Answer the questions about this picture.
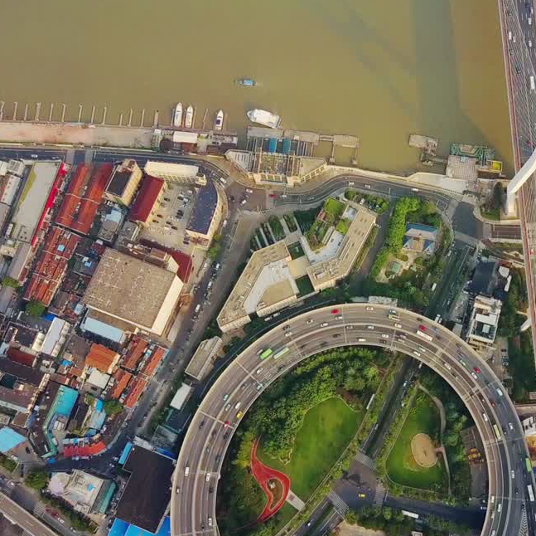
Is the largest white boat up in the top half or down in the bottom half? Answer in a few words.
top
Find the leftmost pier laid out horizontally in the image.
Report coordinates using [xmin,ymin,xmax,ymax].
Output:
[247,126,284,139]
